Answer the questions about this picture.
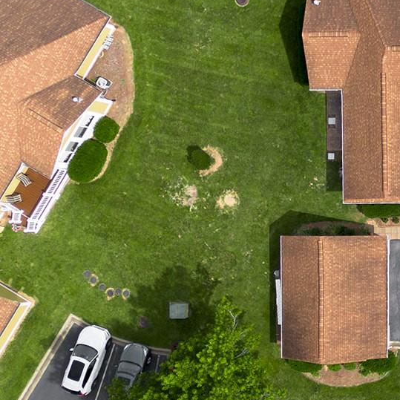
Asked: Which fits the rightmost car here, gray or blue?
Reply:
gray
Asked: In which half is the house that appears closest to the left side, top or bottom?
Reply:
bottom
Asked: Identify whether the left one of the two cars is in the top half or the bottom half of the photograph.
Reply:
bottom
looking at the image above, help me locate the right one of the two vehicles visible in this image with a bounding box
[106,336,155,400]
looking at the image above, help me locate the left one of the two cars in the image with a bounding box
[63,322,114,399]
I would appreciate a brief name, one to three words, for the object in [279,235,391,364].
building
